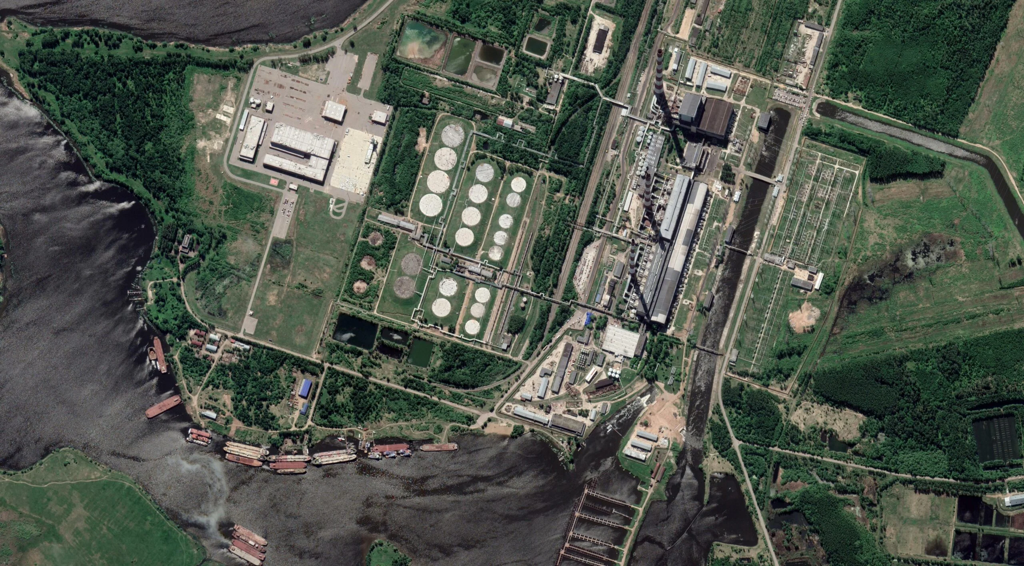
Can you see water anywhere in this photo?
Yes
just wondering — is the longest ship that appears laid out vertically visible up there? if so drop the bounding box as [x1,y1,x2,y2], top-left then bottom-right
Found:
[154,337,167,373]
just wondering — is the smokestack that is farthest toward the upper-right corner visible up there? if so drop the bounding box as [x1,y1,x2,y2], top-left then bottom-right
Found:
[653,49,665,101]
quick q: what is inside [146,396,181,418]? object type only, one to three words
ship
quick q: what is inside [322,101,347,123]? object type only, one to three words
building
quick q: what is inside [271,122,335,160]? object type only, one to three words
building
